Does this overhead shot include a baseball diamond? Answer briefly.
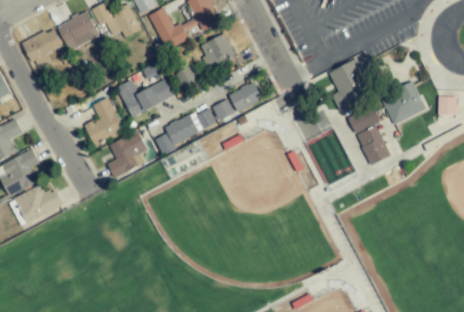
Yes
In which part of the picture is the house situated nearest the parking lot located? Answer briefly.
top right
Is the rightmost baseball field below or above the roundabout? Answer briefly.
below it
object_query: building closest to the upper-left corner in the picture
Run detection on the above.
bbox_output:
[21,28,64,64]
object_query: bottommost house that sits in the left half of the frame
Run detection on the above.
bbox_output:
[10,188,61,229]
